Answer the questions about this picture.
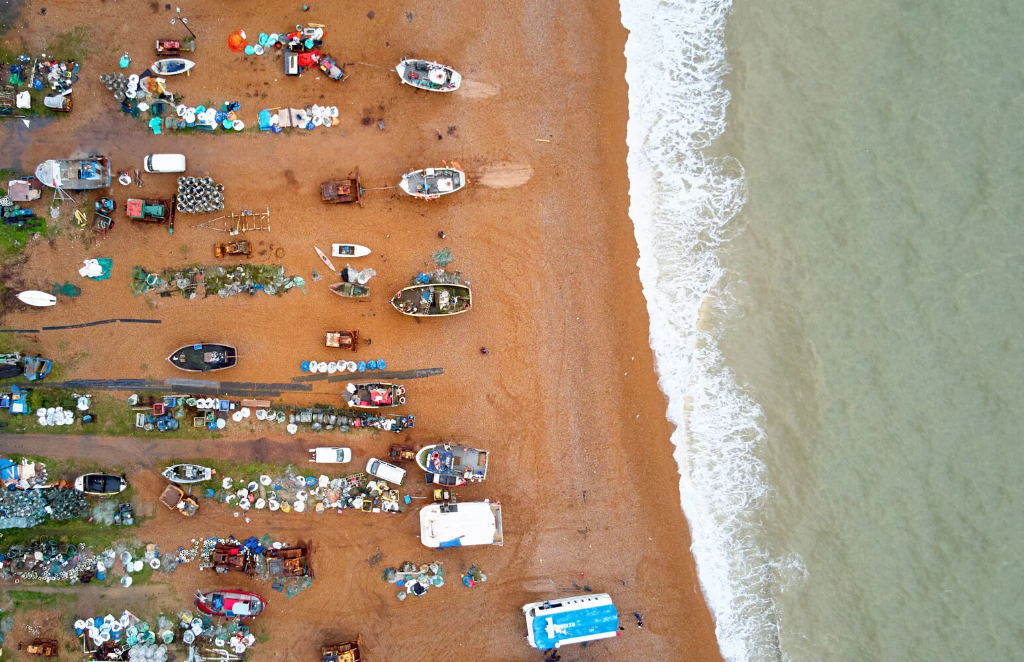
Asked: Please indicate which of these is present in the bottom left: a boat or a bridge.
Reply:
boat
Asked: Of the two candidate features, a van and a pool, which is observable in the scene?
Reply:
van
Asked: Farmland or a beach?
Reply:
beach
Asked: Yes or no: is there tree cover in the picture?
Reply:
No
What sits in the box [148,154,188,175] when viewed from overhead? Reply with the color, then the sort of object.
white vehicle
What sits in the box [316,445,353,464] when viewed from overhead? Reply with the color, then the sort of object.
white vehicle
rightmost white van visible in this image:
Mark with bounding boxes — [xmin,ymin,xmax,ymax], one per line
[367,456,409,486]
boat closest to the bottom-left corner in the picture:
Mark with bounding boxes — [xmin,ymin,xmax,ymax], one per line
[74,474,129,495]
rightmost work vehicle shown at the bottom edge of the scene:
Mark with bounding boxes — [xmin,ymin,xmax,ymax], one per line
[321,631,364,662]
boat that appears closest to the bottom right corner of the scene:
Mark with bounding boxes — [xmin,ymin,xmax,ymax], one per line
[522,591,622,650]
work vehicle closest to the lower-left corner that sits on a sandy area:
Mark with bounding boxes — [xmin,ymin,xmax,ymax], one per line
[22,637,60,656]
